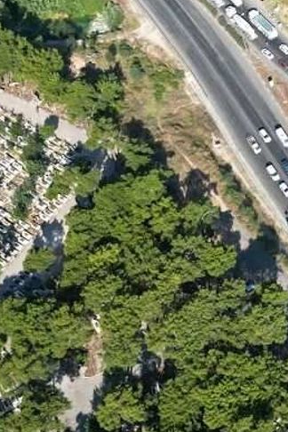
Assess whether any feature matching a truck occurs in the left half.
No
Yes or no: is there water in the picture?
No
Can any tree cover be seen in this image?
Yes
